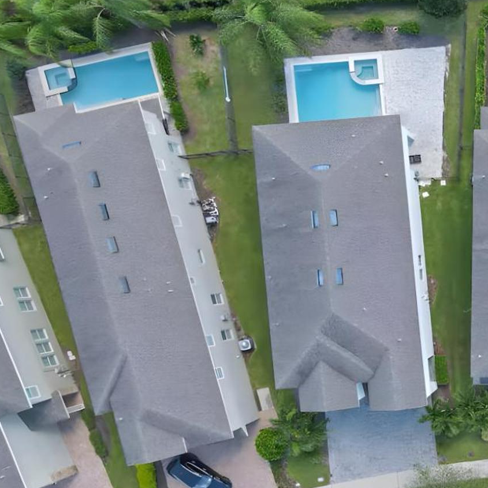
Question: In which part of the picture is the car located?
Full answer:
The car is located in the bottom region of the scene.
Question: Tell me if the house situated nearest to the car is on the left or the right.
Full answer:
The house situated nearest to the car is on the left side of the image.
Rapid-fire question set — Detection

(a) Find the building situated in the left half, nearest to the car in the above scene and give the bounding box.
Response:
[12,96,261,465]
